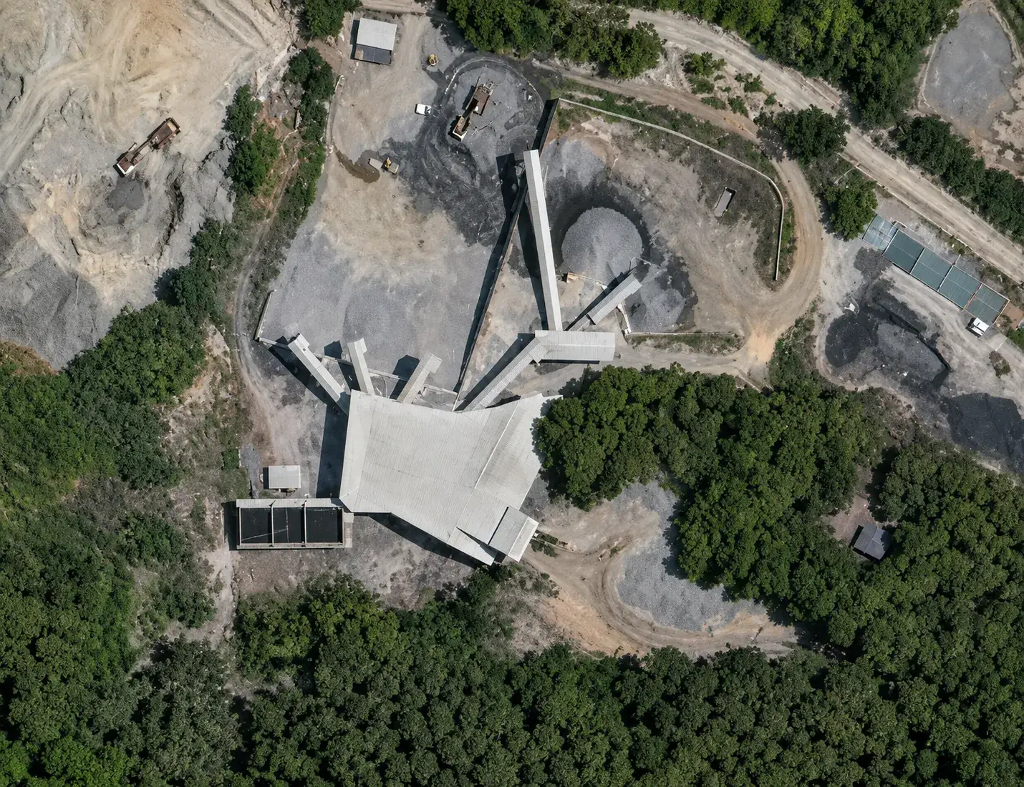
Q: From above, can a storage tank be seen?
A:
Yes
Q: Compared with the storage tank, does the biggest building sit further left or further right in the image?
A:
to the right of it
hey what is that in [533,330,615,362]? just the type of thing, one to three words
house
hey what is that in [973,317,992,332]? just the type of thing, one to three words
vehicle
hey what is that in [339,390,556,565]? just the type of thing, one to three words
building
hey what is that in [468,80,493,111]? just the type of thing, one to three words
truck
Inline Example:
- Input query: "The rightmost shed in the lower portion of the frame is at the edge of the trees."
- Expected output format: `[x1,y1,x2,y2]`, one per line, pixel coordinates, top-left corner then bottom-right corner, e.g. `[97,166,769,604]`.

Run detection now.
[854,525,892,560]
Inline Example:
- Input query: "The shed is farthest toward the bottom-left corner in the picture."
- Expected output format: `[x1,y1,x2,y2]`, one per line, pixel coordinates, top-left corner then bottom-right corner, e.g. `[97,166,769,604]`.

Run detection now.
[268,465,301,489]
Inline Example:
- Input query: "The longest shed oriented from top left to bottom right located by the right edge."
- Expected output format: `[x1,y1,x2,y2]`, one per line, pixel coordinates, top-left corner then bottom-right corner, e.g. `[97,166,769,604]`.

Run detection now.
[883,228,1010,325]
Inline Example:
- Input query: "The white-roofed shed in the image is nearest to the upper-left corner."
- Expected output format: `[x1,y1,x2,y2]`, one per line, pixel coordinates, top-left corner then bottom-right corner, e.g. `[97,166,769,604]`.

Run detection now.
[354,18,397,66]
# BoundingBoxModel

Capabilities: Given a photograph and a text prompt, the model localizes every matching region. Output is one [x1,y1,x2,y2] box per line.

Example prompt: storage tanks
[236,499,356,551]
